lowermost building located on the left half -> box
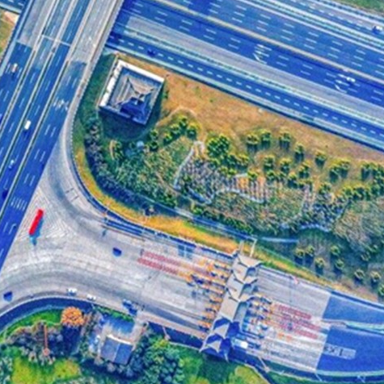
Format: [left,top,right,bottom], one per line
[101,334,134,367]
